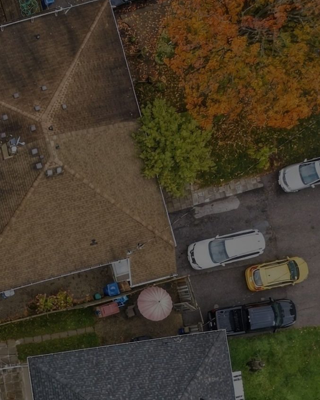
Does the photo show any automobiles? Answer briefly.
Yes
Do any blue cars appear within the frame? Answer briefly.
No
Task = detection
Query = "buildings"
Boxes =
[0,0,177,294]
[17,327,246,400]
